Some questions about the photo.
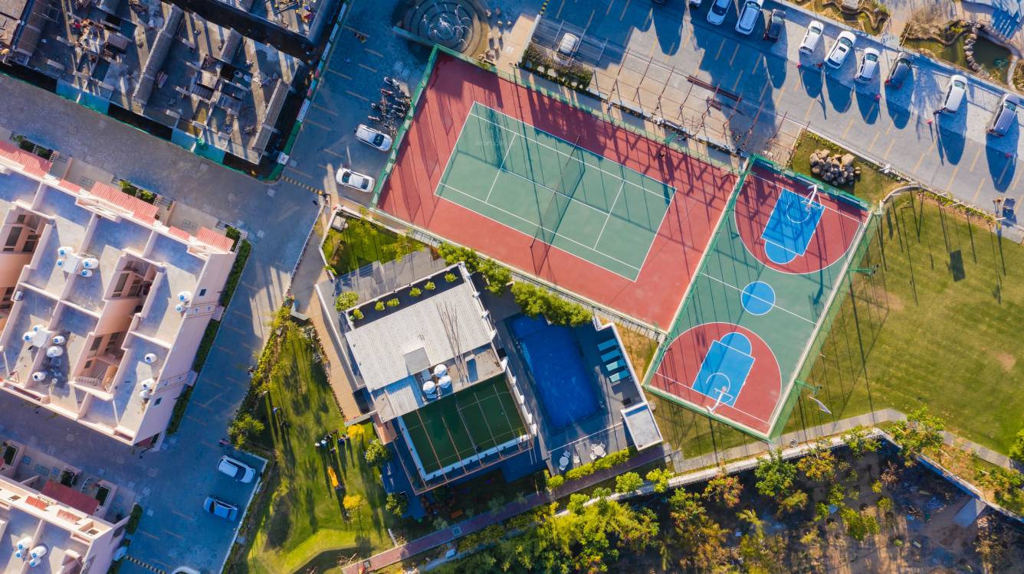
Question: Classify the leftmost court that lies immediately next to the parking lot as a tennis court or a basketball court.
tennis court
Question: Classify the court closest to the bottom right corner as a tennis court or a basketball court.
basketball court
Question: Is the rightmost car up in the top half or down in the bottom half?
top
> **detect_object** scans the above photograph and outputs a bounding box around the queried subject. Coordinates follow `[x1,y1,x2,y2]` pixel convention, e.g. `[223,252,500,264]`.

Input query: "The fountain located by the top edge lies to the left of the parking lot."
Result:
[395,0,485,64]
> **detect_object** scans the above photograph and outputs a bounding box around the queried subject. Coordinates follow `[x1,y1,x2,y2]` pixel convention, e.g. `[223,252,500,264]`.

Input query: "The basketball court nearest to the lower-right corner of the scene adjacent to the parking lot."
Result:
[643,156,875,442]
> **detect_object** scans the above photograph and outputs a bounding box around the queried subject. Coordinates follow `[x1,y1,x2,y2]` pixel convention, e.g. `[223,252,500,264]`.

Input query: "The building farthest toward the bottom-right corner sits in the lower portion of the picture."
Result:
[618,398,663,450]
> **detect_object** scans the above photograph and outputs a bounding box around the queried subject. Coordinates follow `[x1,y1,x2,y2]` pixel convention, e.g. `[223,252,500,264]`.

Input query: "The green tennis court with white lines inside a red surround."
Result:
[372,52,737,334]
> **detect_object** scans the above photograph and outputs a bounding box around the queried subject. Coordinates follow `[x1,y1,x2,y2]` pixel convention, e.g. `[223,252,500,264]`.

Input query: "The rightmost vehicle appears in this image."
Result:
[985,93,1018,139]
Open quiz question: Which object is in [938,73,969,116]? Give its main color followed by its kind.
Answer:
white car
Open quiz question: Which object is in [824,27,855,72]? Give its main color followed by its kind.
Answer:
white car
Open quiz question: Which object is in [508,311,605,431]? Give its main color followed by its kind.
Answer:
blue swimming pool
